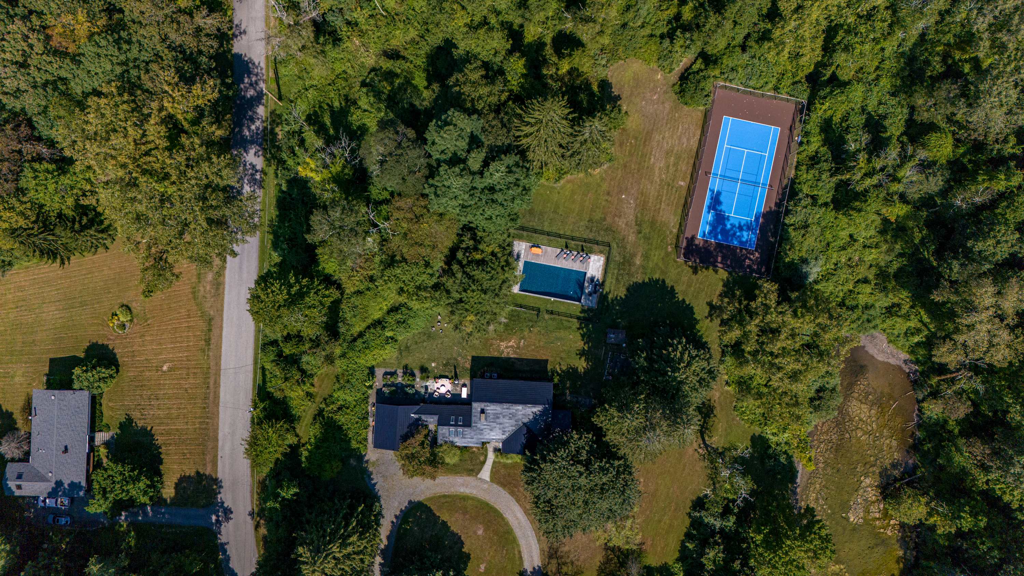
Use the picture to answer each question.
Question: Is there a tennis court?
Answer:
Yes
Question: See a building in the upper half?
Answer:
No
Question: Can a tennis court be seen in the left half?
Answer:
No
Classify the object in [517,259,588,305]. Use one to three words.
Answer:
swimming pool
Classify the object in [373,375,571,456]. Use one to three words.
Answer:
house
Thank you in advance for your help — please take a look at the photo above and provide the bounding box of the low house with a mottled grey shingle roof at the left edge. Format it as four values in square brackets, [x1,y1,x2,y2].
[2,389,106,497]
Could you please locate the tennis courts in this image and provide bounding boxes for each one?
[677,87,795,276]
